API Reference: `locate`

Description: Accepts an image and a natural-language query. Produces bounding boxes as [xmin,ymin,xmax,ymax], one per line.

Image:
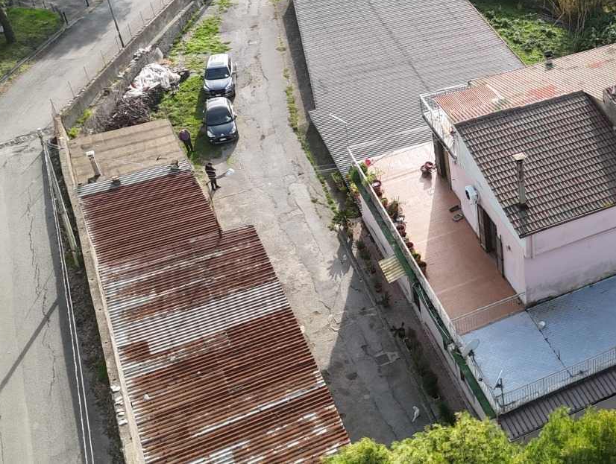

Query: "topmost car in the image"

[198,48,238,97]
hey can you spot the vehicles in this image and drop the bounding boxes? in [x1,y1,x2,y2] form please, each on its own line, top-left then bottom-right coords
[201,93,242,144]
[198,48,238,97]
